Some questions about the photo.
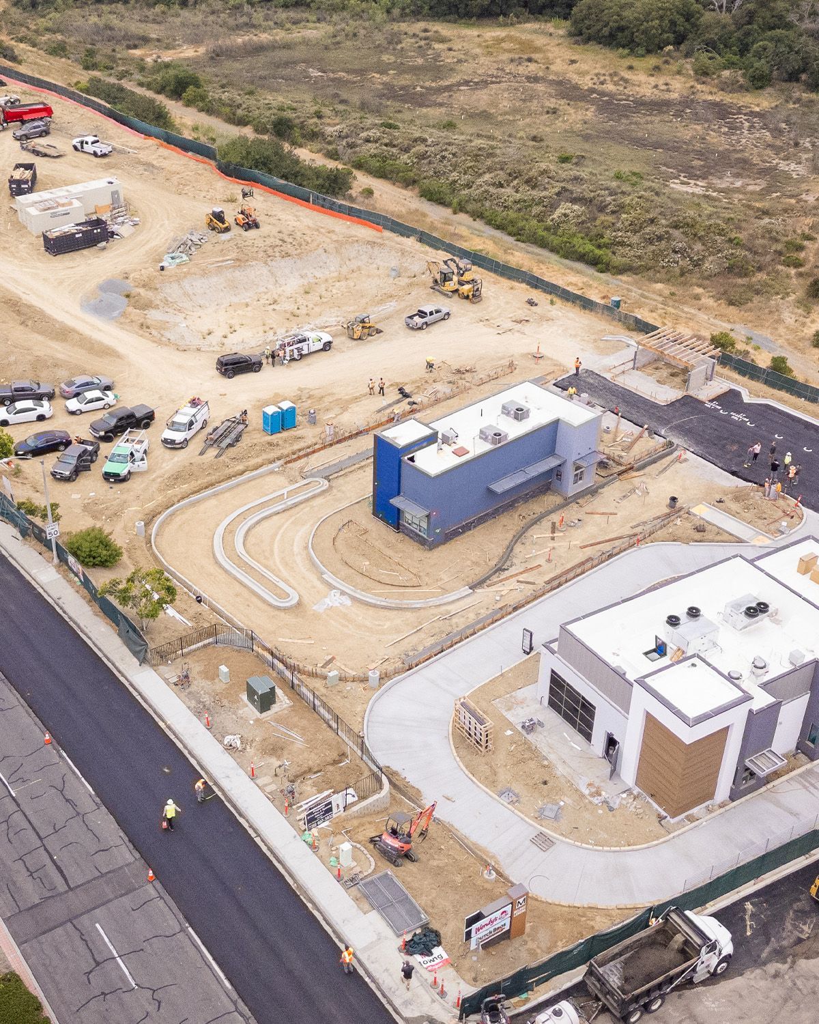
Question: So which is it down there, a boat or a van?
van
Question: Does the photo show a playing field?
No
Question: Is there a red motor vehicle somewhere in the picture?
Yes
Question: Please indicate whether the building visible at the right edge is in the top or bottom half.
bottom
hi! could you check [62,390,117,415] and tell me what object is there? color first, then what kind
white car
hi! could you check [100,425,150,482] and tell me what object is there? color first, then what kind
white truck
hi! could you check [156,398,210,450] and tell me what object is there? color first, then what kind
white van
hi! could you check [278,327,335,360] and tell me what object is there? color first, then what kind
white truck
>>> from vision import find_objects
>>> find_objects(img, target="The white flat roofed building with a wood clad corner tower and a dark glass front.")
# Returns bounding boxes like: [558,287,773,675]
[535,533,819,821]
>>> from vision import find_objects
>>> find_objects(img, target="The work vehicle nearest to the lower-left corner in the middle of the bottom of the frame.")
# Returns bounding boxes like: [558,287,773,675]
[367,795,436,867]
